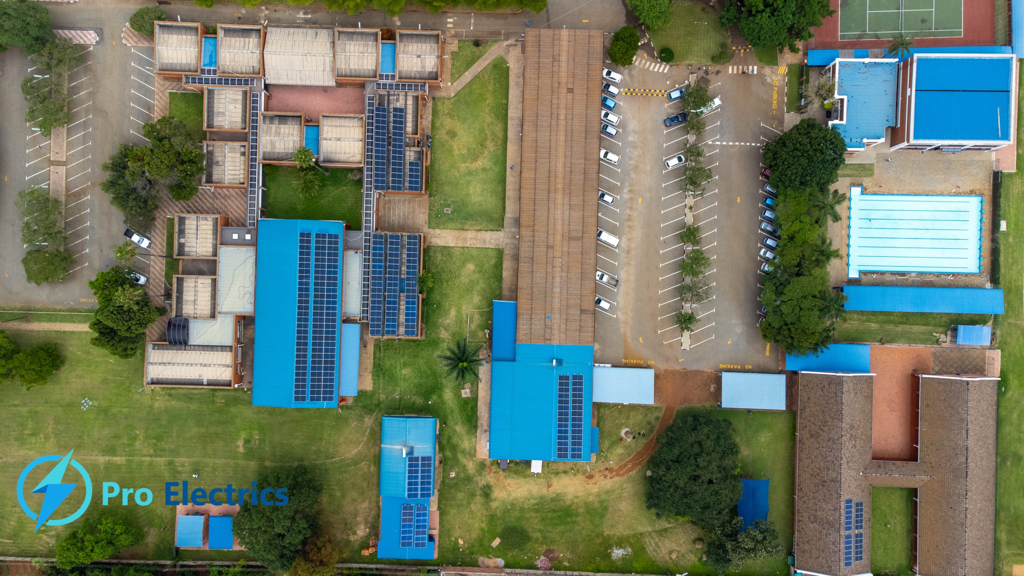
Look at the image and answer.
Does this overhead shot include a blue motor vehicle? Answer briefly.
Yes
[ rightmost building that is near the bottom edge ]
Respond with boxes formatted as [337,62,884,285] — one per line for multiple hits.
[910,375,998,576]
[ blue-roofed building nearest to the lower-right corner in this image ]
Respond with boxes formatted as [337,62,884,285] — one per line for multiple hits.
[950,325,991,345]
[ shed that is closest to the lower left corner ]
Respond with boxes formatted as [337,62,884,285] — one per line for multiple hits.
[177,513,208,547]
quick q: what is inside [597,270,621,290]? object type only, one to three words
vehicle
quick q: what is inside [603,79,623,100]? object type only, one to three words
car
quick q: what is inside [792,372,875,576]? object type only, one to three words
building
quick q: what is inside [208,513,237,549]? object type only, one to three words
shed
